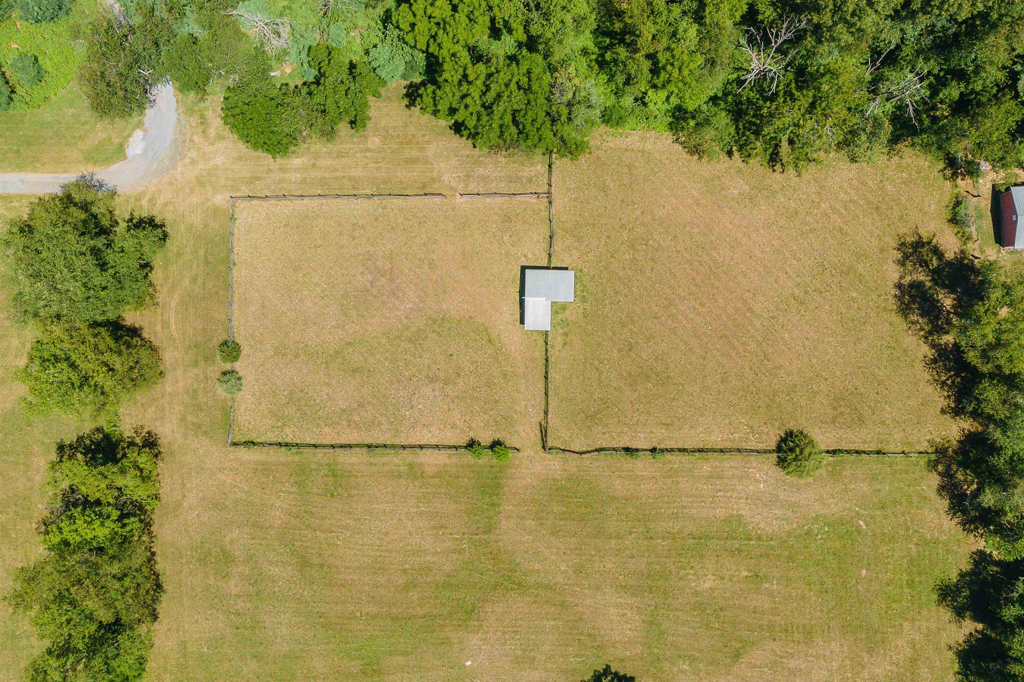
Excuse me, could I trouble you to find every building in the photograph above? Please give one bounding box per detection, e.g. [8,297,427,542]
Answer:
[998,189,1024,247]
[522,268,577,330]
